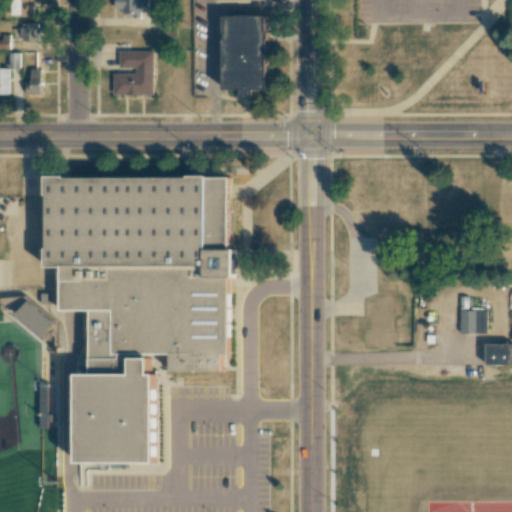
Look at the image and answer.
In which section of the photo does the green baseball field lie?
bottom left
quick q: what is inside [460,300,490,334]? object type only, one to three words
barn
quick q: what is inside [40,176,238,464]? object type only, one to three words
building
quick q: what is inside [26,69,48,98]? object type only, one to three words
house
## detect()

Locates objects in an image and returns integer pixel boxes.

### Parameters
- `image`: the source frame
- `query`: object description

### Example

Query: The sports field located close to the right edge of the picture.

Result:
[361,397,512,512]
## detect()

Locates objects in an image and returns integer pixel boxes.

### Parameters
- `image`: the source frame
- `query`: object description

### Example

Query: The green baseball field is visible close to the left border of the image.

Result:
[0,314,63,512]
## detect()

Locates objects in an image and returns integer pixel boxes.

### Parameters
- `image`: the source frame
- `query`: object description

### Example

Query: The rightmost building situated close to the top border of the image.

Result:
[220,16,269,97]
